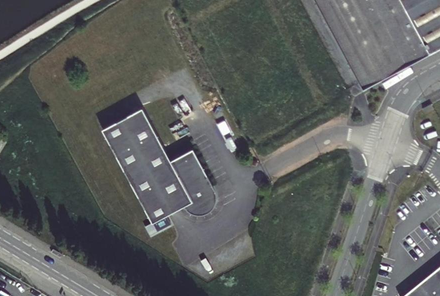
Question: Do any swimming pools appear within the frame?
No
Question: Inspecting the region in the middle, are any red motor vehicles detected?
No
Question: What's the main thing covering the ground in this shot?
grass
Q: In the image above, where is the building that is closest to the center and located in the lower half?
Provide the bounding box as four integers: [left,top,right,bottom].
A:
[171,151,216,216]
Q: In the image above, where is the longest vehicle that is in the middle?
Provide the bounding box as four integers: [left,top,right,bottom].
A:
[217,120,234,146]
